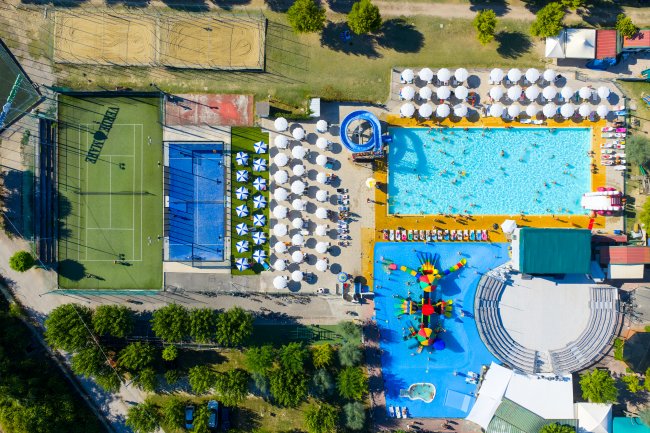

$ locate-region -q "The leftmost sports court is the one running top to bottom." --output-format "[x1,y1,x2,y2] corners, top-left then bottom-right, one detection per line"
[0,39,42,132]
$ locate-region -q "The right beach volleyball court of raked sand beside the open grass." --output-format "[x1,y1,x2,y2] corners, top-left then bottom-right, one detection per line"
[162,12,262,66]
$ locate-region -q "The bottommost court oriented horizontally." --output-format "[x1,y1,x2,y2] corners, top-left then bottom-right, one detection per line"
[164,95,253,124]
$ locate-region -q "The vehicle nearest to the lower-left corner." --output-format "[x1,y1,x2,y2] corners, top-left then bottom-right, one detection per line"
[183,404,196,429]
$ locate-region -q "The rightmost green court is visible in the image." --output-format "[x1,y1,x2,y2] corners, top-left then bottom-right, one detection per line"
[58,93,163,291]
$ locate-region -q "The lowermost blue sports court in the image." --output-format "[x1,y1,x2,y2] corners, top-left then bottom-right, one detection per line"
[161,139,225,264]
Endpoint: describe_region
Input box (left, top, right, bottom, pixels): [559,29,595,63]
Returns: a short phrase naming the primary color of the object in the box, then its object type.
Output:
white tent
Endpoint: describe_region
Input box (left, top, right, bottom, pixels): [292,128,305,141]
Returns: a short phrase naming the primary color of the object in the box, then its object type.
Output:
white umbrella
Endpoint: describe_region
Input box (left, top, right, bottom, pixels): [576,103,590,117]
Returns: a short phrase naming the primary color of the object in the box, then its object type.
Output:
white umbrella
